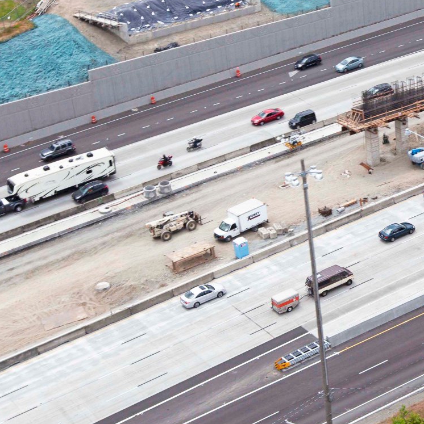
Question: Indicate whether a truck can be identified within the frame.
Yes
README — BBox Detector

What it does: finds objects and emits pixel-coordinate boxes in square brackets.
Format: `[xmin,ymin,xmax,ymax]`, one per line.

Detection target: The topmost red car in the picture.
[250,108,285,126]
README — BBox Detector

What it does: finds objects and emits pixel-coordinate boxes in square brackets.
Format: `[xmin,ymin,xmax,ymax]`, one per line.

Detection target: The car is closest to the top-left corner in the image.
[39,136,78,159]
